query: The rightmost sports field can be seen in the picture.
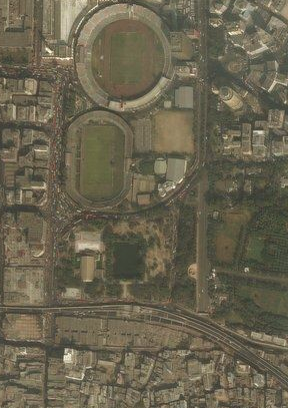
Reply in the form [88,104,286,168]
[151,109,195,155]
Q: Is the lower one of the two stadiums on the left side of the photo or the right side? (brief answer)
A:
left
